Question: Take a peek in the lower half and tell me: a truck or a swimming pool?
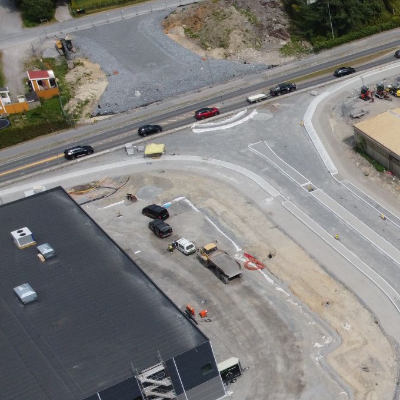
truck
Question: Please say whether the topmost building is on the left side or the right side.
left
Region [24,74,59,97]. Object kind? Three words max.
building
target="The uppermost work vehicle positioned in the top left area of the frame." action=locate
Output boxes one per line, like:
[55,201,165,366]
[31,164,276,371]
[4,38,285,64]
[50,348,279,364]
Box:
[57,38,70,53]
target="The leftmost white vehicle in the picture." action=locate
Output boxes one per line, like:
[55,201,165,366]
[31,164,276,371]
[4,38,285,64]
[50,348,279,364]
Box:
[171,236,197,255]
